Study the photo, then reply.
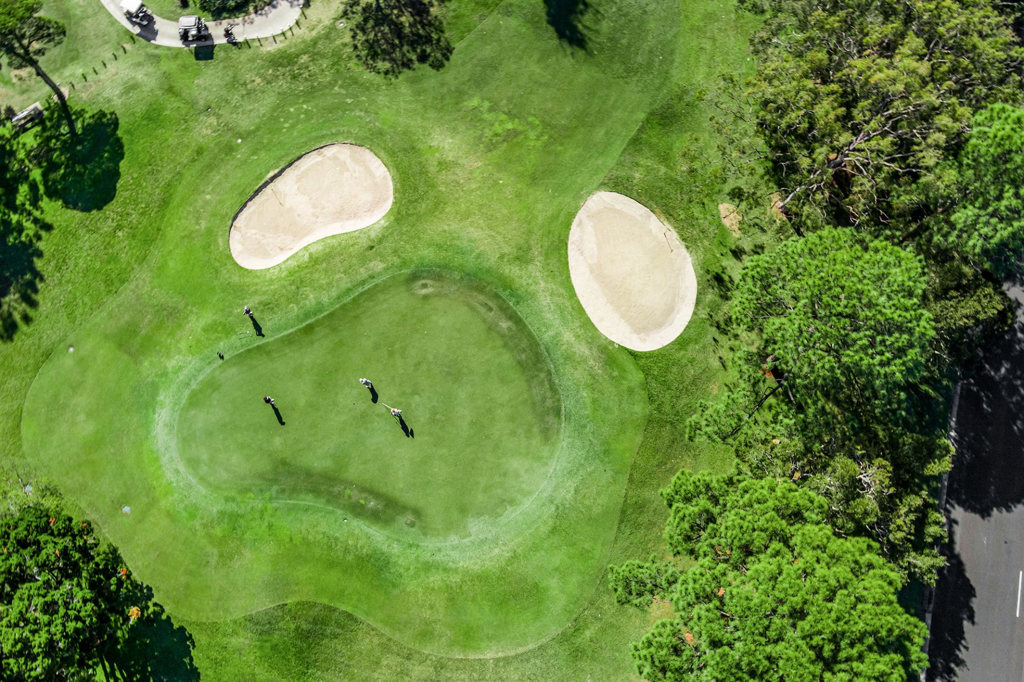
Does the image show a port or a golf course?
golf course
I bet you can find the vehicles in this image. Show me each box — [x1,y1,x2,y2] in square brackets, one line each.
[120,0,155,26]
[177,16,211,41]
